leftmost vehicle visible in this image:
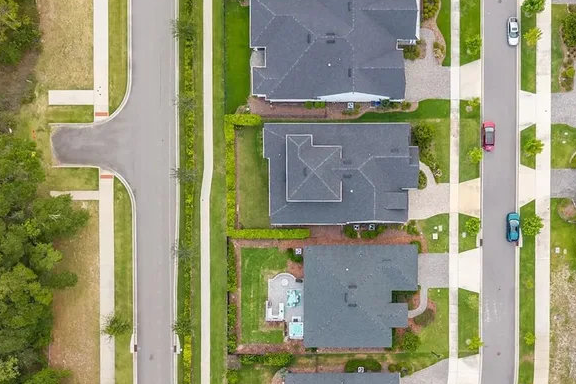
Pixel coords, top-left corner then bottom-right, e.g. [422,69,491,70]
[482,122,495,150]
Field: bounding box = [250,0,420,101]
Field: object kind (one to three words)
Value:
house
